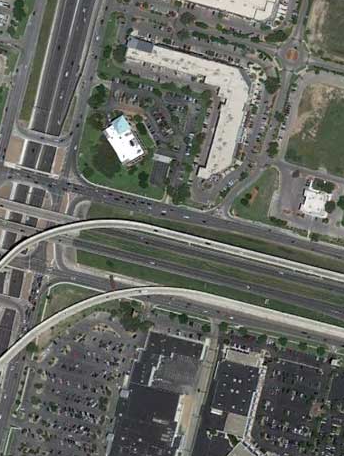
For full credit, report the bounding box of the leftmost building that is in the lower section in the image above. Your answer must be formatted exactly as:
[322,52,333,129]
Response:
[106,331,205,456]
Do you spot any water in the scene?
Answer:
No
